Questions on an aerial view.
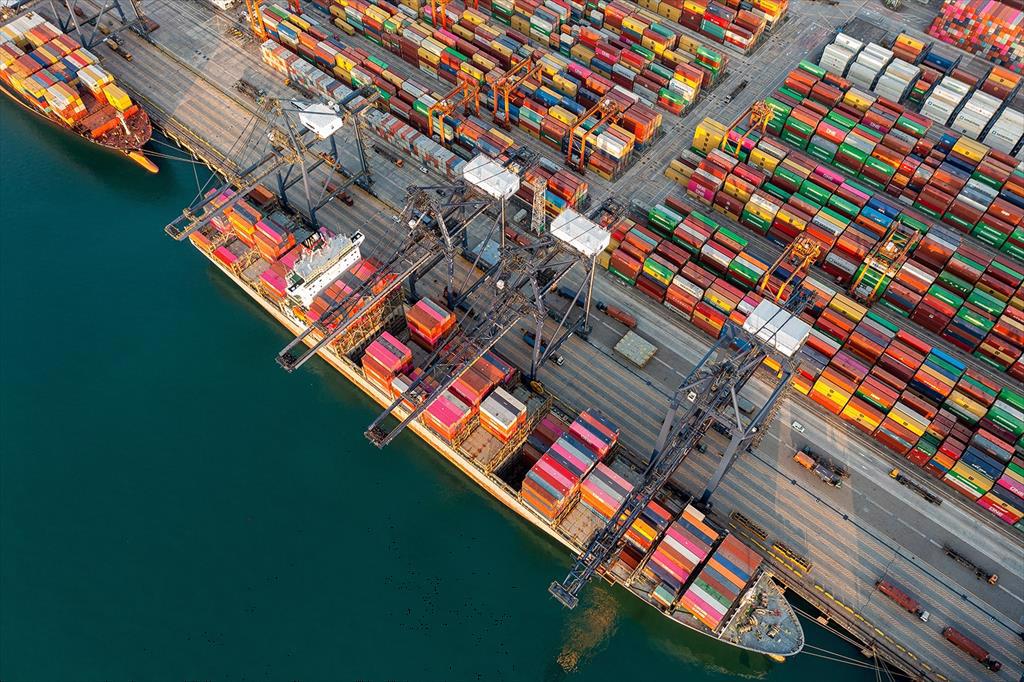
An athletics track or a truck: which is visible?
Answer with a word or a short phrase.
truck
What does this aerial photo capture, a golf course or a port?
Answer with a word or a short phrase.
port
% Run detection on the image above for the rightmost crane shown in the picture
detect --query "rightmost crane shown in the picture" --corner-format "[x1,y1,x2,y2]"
[844,219,921,307]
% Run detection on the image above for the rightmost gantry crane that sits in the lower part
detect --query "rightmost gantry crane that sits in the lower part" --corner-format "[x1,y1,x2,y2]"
[548,297,811,610]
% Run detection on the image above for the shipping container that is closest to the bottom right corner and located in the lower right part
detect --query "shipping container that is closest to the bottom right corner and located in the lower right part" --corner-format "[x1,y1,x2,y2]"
[947,629,993,664]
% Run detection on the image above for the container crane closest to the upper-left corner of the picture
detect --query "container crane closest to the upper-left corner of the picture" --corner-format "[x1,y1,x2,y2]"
[34,0,136,36]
